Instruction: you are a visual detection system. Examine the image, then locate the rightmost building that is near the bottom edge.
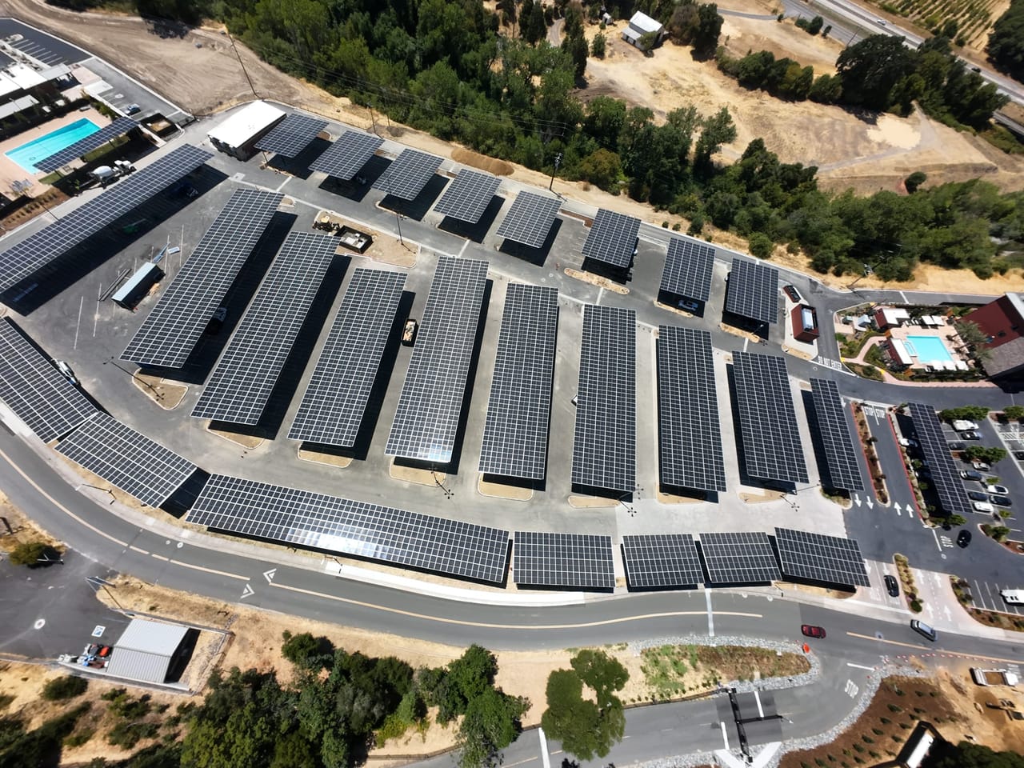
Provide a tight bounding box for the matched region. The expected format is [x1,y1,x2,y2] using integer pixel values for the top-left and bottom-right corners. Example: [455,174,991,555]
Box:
[867,724,938,768]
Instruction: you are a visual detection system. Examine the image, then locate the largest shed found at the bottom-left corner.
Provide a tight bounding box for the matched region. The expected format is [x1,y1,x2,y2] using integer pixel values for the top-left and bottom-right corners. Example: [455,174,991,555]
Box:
[106,618,201,682]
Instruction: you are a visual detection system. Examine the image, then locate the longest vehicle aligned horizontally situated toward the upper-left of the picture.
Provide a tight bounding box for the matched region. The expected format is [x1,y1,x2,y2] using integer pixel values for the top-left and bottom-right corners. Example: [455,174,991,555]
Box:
[80,158,136,182]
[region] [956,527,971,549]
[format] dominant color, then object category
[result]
black car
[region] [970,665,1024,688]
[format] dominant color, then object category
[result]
white truck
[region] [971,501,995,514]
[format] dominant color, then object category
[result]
white vehicle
